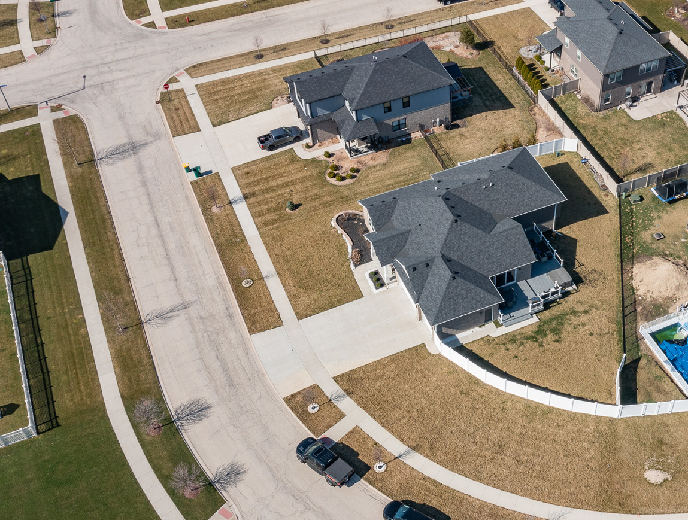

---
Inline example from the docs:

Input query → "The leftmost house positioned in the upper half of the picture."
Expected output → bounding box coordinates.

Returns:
[290,40,455,161]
